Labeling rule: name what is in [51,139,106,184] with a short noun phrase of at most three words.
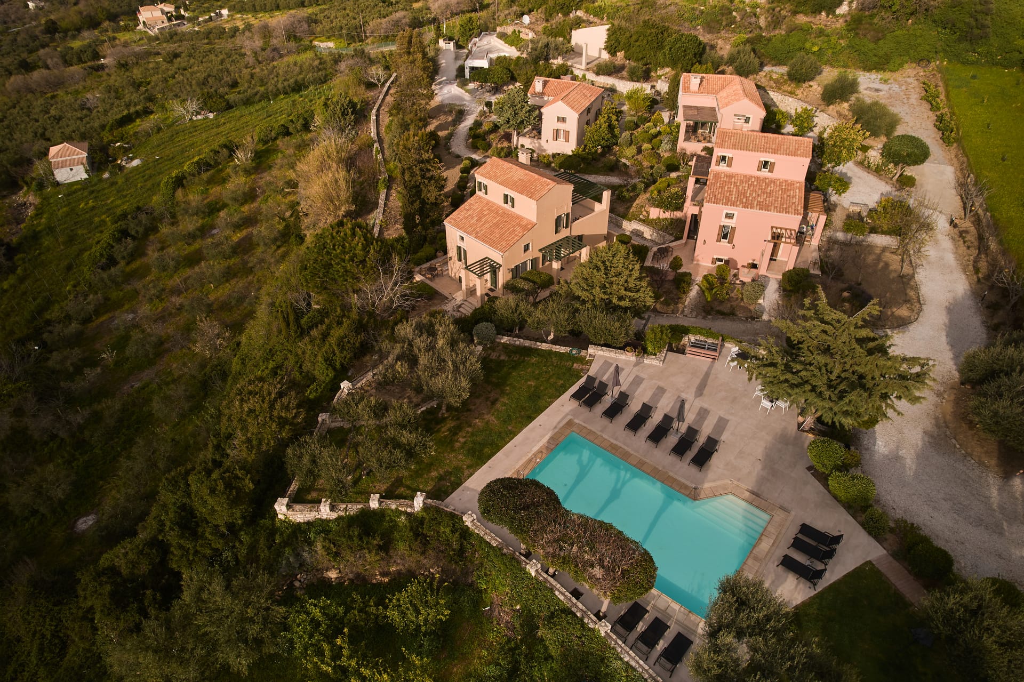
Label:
building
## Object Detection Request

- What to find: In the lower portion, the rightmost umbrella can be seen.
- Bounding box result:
[671,400,685,438]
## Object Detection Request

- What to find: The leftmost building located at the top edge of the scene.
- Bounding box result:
[141,4,199,36]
